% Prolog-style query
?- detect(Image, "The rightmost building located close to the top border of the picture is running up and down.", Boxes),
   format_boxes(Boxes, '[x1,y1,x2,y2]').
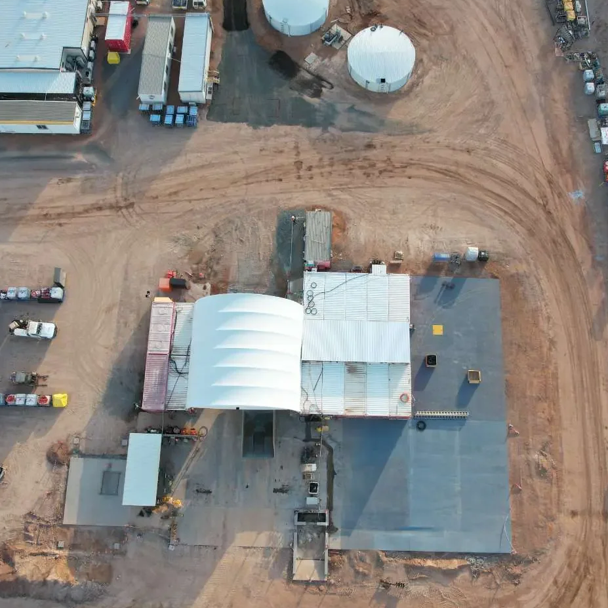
[178,12,223,108]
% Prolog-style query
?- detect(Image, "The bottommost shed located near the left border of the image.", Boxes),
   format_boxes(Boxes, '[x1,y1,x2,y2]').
[0,101,83,133]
